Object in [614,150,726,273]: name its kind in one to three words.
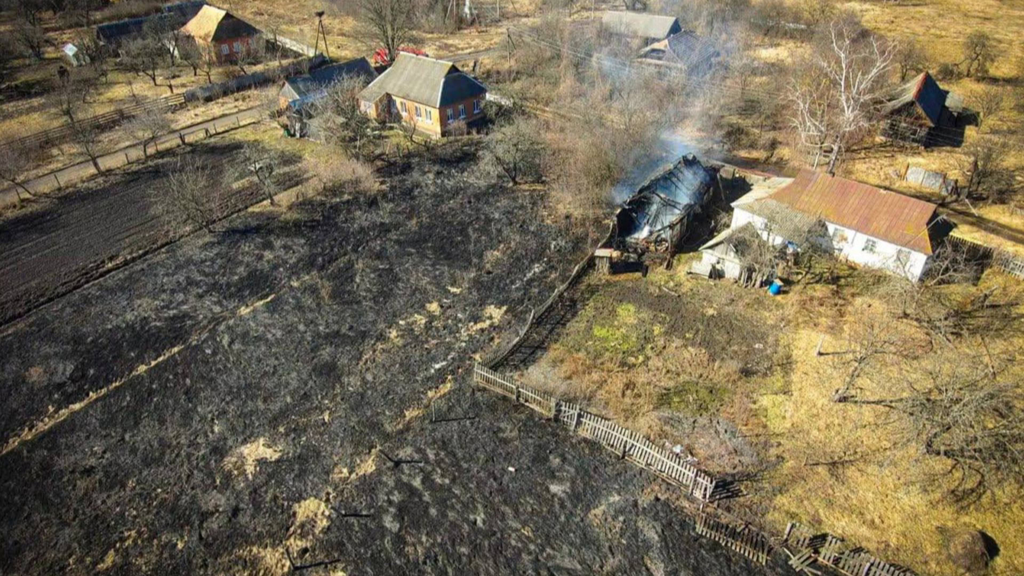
barn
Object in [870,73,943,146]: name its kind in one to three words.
shed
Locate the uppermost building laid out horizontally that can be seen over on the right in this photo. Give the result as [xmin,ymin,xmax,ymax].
[594,10,684,46]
